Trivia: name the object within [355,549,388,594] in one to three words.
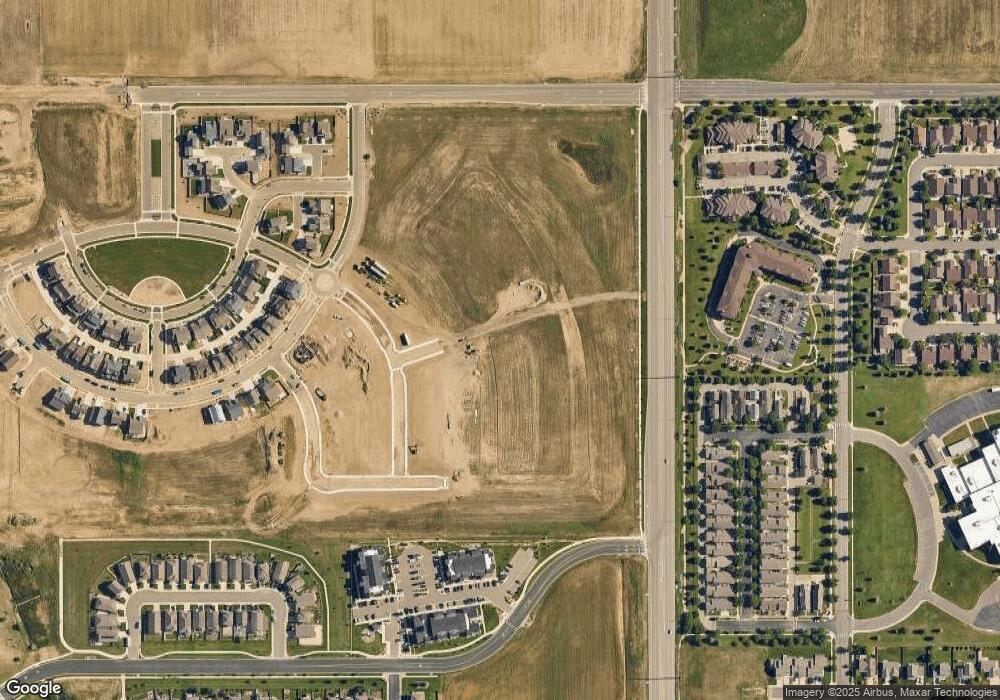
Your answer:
building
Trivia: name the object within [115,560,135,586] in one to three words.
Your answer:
house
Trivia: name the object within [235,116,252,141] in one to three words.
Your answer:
house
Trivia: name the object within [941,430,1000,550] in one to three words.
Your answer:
building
